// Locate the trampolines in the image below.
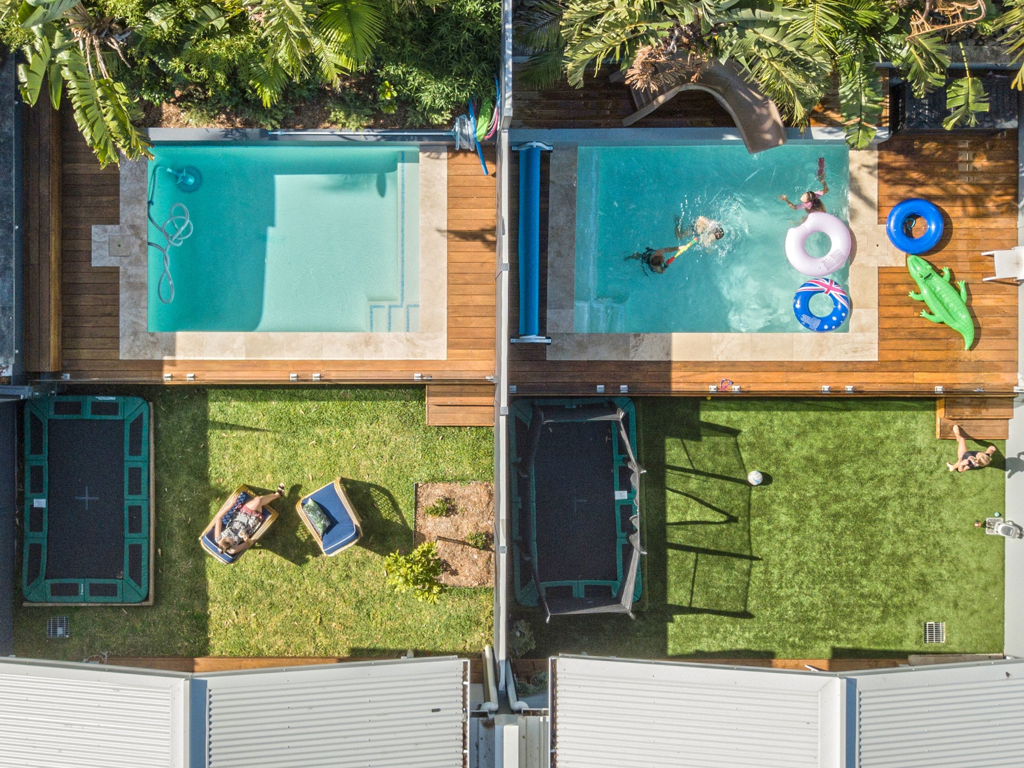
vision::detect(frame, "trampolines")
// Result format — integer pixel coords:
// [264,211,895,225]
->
[513,397,649,624]
[21,396,159,609]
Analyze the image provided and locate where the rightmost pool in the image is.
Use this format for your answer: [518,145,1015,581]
[583,146,848,332]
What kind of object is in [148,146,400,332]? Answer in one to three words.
swimming pool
